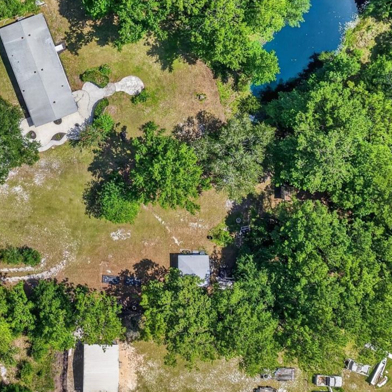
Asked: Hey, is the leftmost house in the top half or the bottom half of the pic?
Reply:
top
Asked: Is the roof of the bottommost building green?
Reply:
No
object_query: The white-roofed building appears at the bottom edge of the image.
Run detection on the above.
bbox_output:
[83,339,118,392]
